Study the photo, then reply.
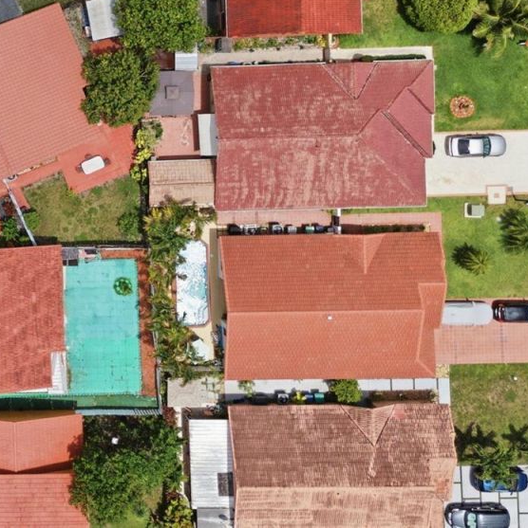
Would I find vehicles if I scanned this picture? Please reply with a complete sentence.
Yes, the photo shows a vehicle.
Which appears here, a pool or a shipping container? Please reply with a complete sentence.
There is a pool in the scene.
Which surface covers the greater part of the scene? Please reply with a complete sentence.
For the most part, this view shows buildings.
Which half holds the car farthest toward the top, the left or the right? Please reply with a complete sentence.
The car farthest toward the top sits on the right side.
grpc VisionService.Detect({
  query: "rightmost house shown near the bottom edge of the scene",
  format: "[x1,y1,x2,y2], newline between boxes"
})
[222,397,457,528]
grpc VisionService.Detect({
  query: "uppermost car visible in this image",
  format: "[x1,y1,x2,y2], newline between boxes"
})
[444,132,507,159]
